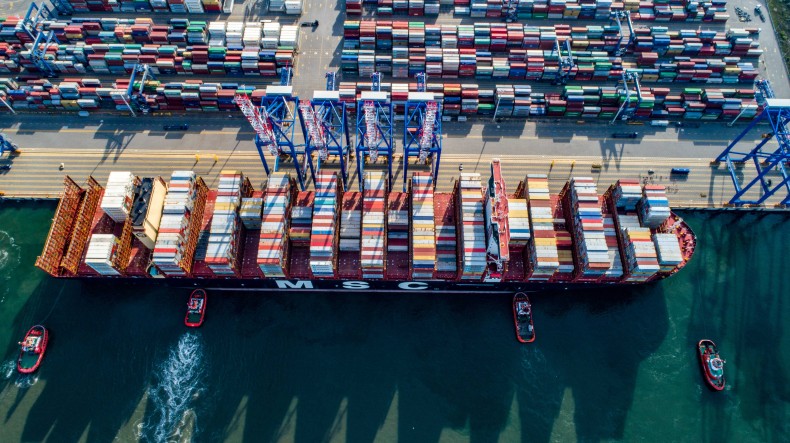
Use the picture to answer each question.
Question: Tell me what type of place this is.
port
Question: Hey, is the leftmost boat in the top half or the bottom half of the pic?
bottom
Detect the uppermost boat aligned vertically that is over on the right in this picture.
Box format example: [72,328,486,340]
[513,293,535,343]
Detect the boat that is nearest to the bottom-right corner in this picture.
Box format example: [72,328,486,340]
[694,340,725,391]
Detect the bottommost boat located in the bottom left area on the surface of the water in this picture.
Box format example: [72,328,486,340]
[17,324,46,374]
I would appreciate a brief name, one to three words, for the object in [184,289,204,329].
boat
